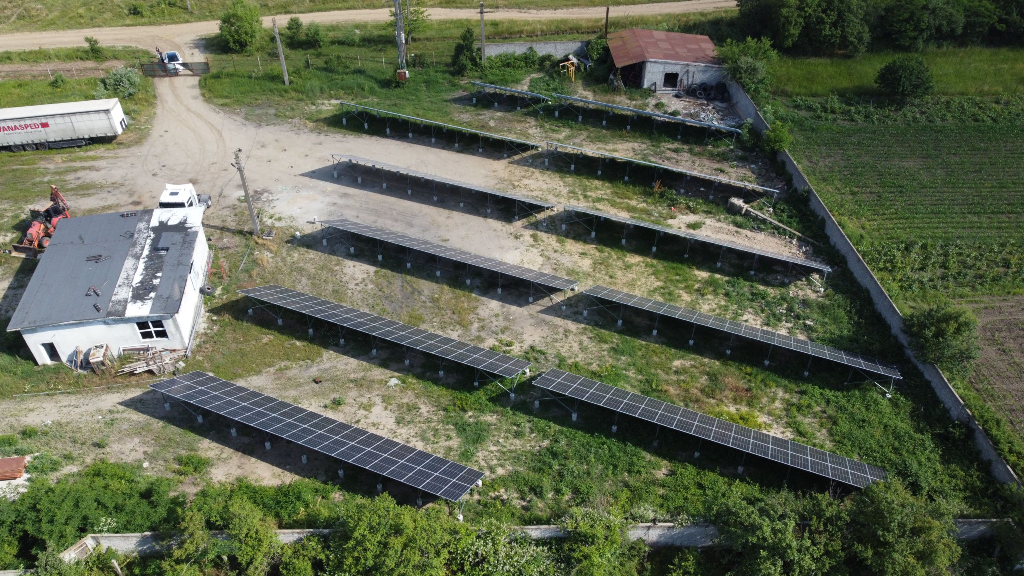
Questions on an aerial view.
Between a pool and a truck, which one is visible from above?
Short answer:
truck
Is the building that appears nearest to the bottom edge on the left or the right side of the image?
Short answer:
left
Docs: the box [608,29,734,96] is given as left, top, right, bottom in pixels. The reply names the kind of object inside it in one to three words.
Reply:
barn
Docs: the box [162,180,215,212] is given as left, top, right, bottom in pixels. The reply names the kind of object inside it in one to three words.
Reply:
truck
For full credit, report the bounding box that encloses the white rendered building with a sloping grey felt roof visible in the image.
[6,208,208,365]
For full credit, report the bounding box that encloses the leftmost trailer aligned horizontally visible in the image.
[0,100,125,151]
